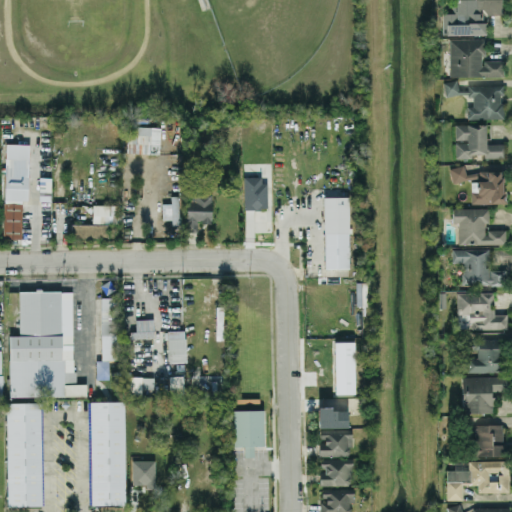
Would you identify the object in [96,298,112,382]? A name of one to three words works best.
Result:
shed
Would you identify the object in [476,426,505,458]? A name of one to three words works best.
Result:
house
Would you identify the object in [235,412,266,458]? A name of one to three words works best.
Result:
building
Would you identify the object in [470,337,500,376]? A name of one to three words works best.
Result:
house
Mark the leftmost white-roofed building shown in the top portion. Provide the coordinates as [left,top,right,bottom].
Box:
[4,144,30,240]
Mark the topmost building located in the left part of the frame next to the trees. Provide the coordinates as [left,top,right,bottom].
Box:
[128,128,161,155]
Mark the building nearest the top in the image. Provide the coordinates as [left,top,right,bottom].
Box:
[444,0,504,36]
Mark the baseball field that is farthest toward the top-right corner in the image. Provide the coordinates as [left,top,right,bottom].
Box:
[209,0,338,95]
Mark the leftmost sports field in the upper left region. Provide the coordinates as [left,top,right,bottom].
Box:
[11,0,144,81]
